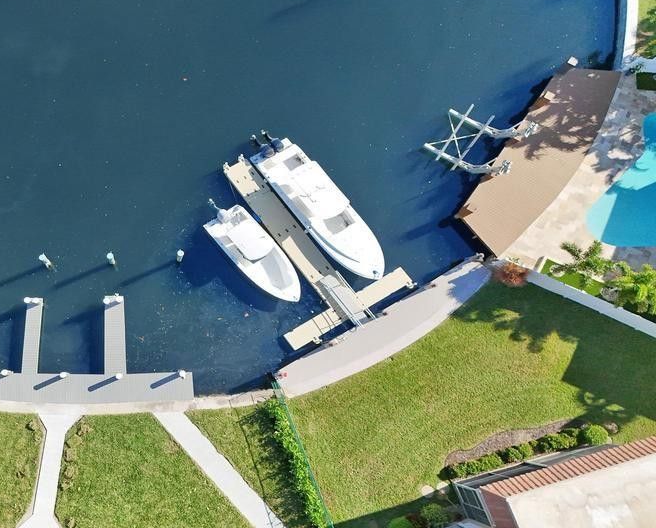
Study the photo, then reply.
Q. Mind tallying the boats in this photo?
two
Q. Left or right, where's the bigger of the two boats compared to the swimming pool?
to the left of it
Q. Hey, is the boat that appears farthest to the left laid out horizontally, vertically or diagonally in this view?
diagonally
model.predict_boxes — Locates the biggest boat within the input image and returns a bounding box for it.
[245,128,387,280]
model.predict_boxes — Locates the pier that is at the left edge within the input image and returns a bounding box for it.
[0,295,195,404]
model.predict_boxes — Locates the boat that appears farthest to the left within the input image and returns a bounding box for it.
[204,194,302,304]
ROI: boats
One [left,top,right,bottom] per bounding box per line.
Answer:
[245,128,387,280]
[204,194,302,304]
